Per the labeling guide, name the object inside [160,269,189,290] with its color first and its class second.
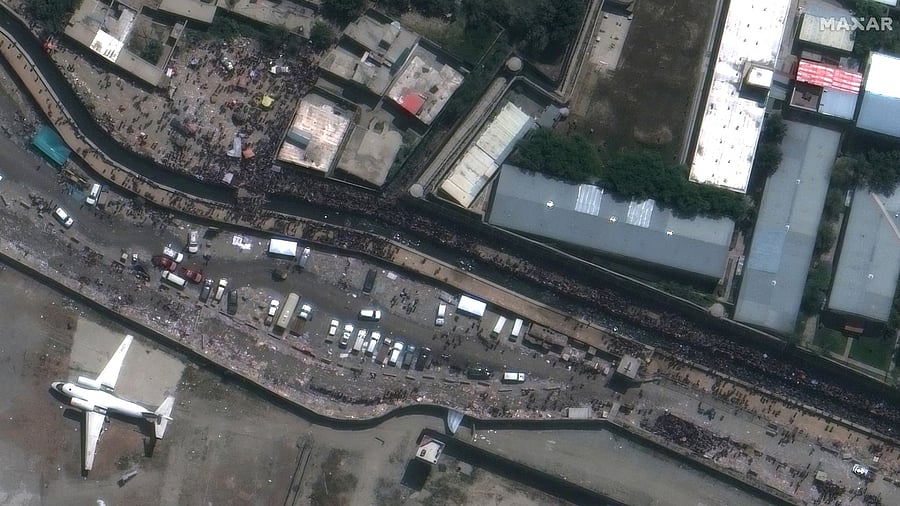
white vehicle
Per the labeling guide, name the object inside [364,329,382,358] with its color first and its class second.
white car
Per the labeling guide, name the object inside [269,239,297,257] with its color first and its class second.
white tent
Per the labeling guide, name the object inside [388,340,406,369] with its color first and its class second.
white car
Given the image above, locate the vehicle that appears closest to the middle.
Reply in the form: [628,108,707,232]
[435,302,447,327]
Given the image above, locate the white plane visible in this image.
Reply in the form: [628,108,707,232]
[52,336,174,473]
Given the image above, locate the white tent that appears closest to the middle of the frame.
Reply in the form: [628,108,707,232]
[457,294,488,318]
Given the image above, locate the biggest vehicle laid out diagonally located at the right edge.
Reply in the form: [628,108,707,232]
[850,461,875,480]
